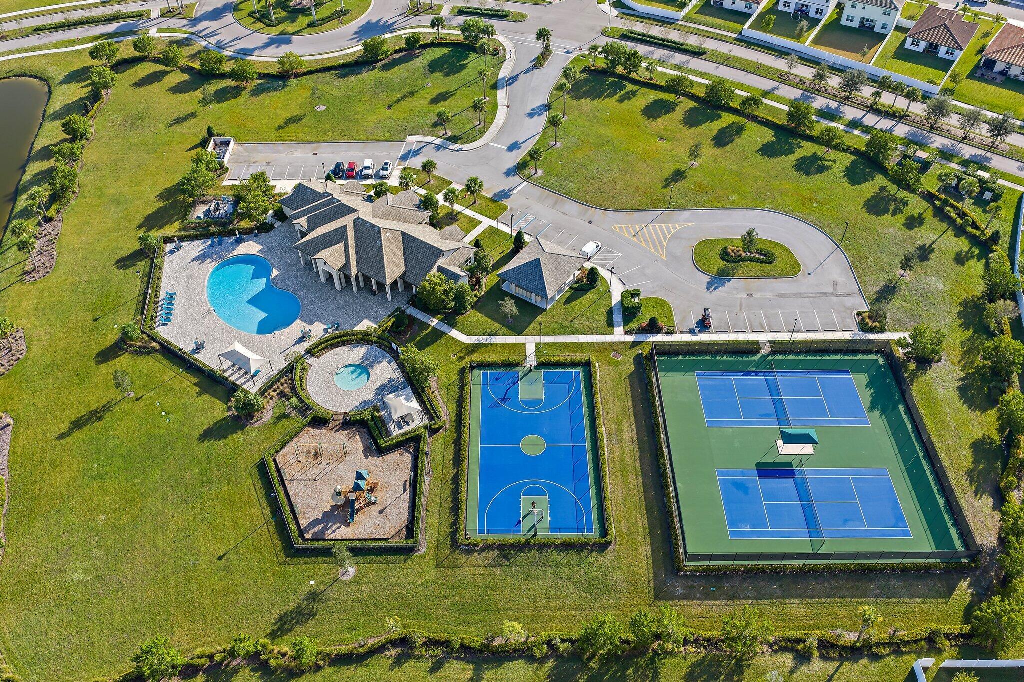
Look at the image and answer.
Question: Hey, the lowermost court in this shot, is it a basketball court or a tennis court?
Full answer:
The lowermost court appears to be a tennis court.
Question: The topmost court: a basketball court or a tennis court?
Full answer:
In the photo, the topmost court shows up as a tennis court.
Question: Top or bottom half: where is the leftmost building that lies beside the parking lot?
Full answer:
The leftmost building that lies beside the parking lot is in the top half of the image.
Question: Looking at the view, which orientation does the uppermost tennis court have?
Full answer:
The uppermost tennis court has been laid out from left to right relative to the frame.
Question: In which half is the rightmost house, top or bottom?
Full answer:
The rightmost house sits in the top half of the picture.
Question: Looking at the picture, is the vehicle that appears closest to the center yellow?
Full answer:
No, the vehicle that appears closest to the center is actually white.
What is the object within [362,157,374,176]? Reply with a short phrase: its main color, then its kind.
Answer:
white vehicle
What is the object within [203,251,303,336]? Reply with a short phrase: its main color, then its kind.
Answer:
blue swimming pool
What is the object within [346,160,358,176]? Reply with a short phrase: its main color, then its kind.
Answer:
red vehicle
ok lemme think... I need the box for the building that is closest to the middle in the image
[497,236,587,308]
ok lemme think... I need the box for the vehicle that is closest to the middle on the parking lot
[582,239,606,259]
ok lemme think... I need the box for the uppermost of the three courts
[695,361,871,429]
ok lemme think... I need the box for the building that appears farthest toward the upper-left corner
[205,136,232,166]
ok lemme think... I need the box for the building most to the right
[984,22,1024,76]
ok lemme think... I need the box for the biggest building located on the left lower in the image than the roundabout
[277,179,479,301]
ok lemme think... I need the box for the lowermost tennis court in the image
[718,458,915,544]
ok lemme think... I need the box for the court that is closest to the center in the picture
[477,372,594,536]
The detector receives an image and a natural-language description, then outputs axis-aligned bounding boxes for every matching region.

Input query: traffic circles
[188,0,412,56]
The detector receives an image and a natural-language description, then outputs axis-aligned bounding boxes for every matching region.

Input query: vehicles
[379,159,391,175]
[703,307,715,326]
[332,159,345,176]
[582,239,606,259]
[346,160,358,176]
[362,157,374,176]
